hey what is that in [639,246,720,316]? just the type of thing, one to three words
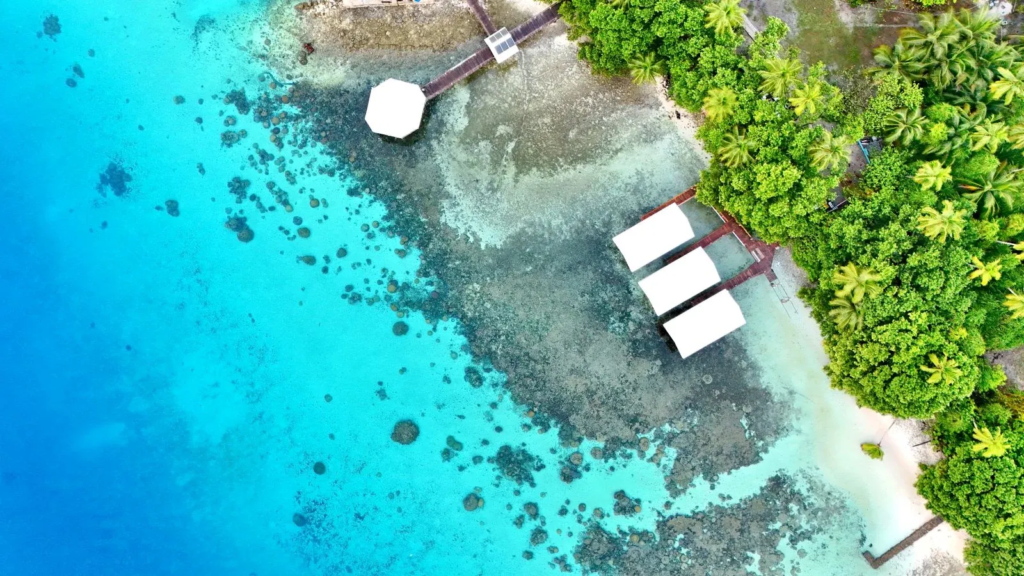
house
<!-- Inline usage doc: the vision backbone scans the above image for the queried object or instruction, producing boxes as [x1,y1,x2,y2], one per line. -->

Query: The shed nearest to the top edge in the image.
[484,27,519,71]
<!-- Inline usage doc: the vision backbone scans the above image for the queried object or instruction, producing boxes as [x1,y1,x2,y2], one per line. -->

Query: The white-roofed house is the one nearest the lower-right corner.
[664,289,745,358]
